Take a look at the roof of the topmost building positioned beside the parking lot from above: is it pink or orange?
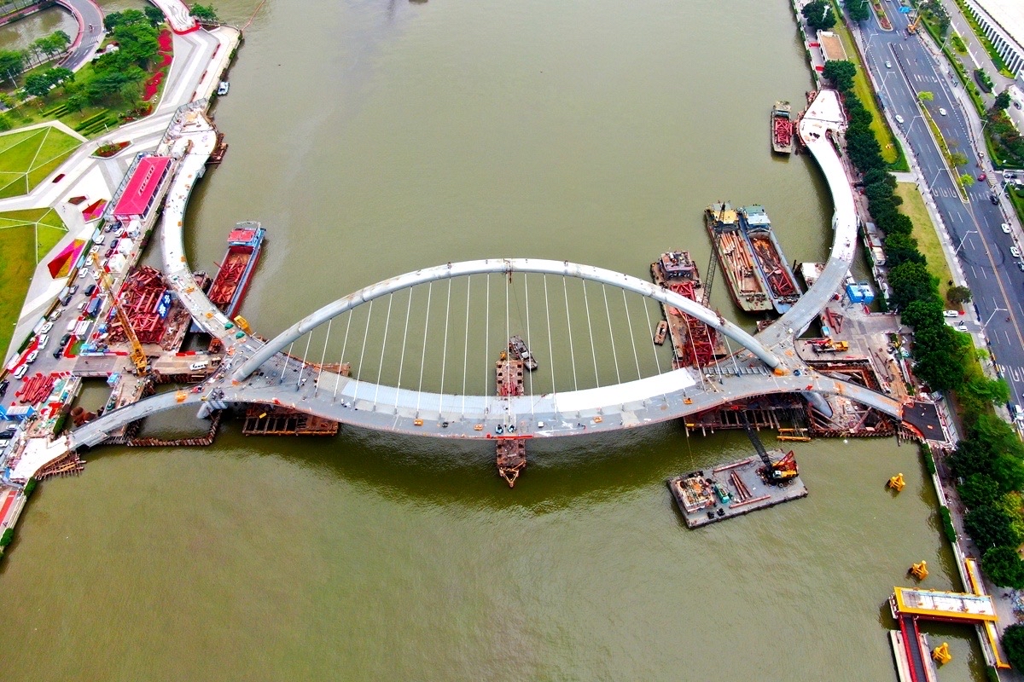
pink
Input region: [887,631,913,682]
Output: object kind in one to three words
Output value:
pier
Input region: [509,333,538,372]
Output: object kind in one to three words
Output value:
boat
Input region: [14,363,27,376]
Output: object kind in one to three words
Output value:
vehicle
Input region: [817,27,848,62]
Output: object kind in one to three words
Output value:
building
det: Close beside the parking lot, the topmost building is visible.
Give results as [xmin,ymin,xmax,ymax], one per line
[112,157,176,224]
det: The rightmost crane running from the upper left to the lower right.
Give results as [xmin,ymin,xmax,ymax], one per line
[722,409,797,491]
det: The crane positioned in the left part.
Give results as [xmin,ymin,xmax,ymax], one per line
[92,250,151,375]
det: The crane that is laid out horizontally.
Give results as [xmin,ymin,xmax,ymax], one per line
[804,336,850,355]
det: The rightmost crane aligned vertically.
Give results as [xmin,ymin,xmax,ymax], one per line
[694,202,727,321]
